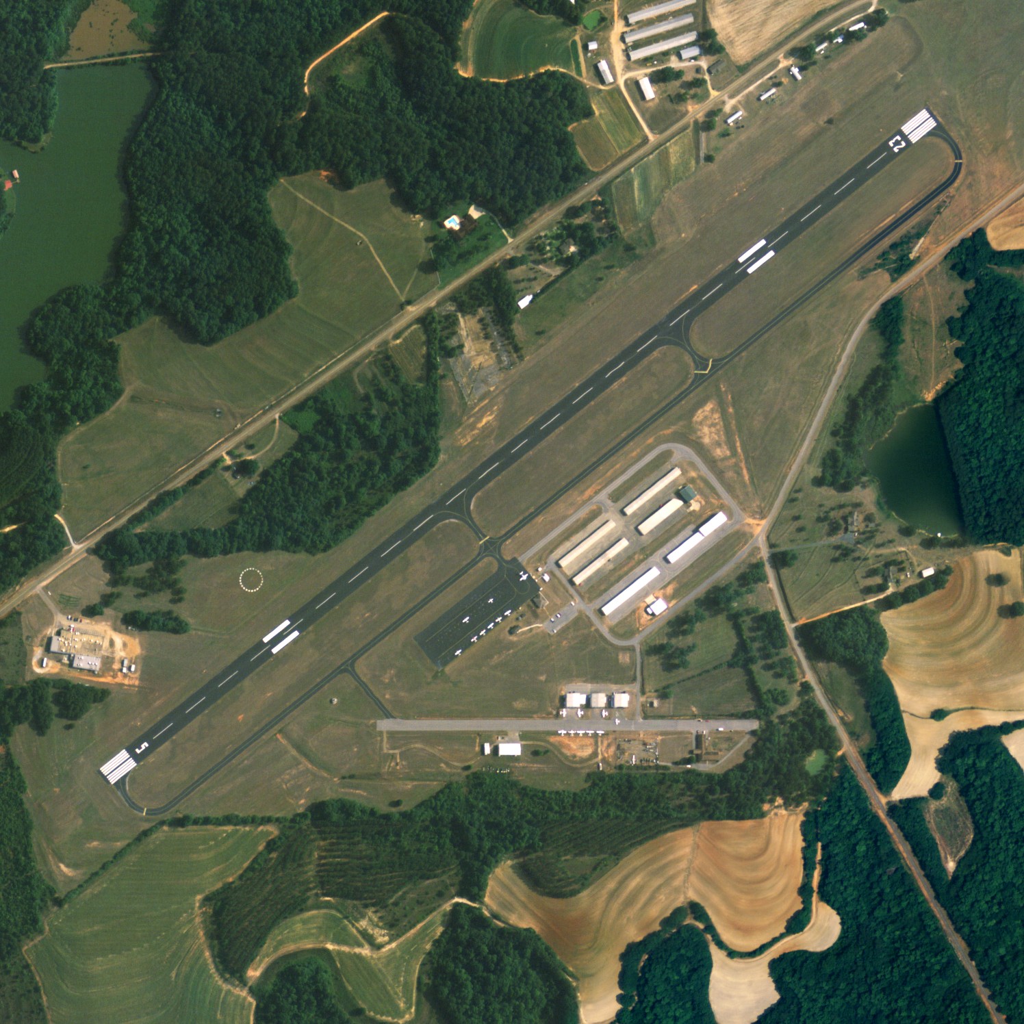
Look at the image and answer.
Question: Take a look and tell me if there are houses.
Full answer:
Yes, there's a house here.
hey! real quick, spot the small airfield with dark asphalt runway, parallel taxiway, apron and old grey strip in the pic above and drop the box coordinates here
[97,107,963,816]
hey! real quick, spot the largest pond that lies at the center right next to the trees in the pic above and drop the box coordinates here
[862,400,972,536]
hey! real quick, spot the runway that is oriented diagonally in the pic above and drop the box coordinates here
[97,107,940,787]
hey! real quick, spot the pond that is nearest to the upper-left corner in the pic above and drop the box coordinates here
[61,0,151,59]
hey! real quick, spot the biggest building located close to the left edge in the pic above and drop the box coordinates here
[49,630,104,673]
